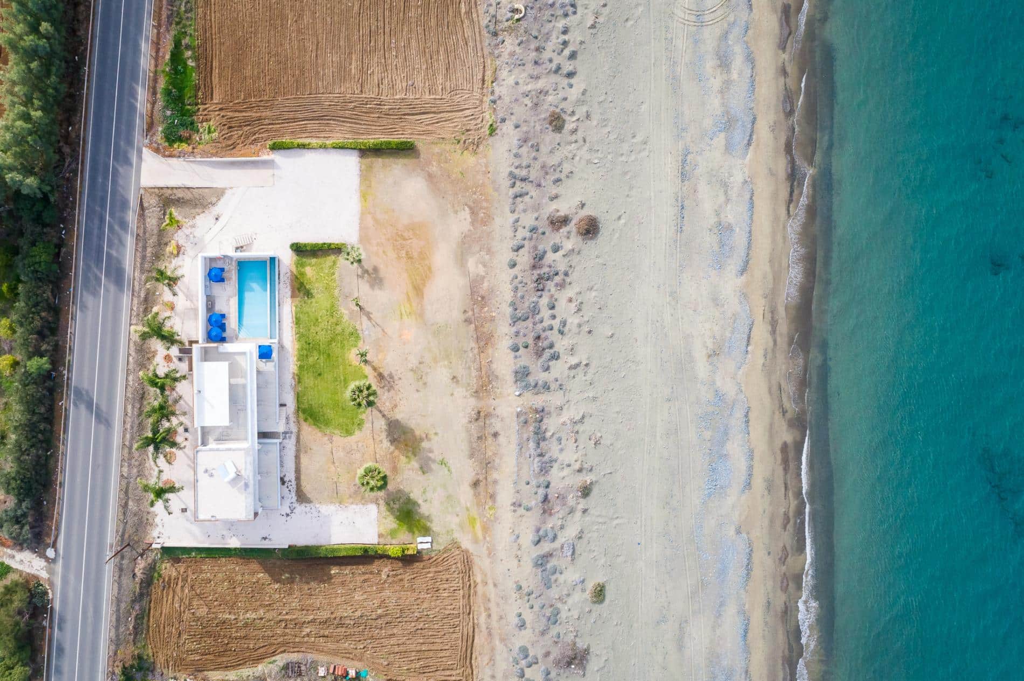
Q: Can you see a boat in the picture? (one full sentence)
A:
No, there appears to be no boat in this shot.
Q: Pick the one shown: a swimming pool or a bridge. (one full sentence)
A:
Looking from above, you can make out a swimming pool.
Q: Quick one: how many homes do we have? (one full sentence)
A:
In total, there is 1 home in the scene.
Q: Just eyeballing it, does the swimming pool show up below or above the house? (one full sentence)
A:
The position of the swimming pool is above the house.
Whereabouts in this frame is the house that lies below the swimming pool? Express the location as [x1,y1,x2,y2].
[174,340,292,521]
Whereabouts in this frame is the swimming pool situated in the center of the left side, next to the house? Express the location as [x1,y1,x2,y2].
[199,253,281,345]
